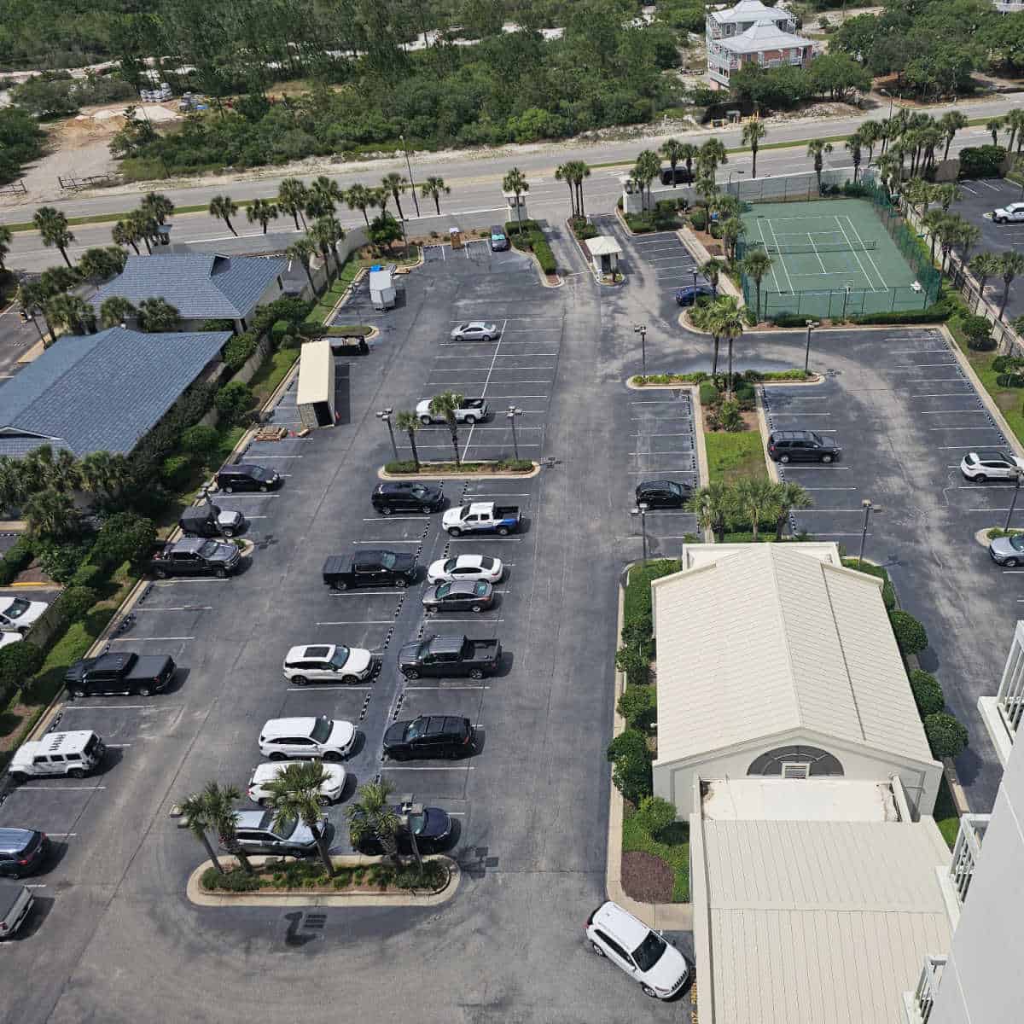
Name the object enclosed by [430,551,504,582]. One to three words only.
car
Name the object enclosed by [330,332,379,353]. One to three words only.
trailer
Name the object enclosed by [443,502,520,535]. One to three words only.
truck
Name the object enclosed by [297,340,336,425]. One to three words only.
shipping container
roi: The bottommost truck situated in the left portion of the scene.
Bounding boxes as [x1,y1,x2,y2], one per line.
[0,898,37,950]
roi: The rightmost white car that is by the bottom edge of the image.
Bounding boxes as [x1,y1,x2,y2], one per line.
[582,903,691,1000]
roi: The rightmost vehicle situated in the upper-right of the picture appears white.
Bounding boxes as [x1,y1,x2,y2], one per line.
[990,201,1024,224]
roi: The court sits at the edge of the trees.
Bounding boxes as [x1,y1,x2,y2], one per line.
[740,198,933,317]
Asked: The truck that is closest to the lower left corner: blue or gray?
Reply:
gray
